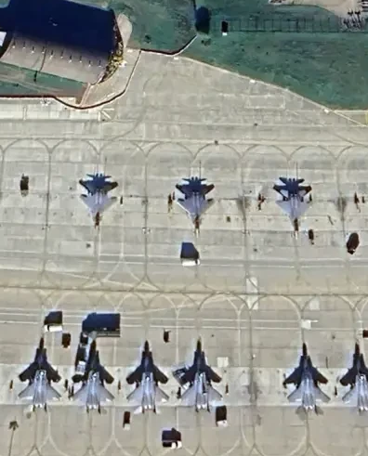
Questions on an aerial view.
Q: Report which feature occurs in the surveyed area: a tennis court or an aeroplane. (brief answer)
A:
aeroplane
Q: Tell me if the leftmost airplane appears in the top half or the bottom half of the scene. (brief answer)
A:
bottom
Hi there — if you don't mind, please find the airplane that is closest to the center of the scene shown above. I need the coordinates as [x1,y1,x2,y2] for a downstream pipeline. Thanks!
[175,178,215,237]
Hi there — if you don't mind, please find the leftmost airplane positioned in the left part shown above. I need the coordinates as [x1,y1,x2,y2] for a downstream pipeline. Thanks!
[19,355,60,420]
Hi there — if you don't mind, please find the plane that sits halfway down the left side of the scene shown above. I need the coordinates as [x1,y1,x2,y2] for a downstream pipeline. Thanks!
[79,178,117,234]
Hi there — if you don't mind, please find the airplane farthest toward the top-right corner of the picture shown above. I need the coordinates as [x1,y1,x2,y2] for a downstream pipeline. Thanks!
[274,182,313,239]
